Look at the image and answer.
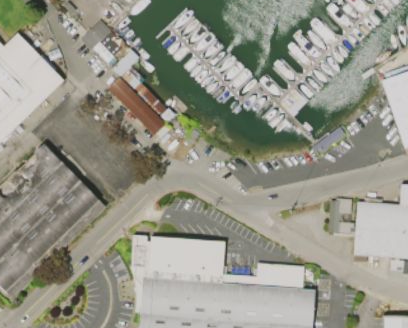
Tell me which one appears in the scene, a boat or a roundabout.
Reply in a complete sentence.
Visible in the photo is a boat.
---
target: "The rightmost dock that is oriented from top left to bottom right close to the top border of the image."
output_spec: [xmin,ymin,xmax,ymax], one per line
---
[156,8,244,102]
